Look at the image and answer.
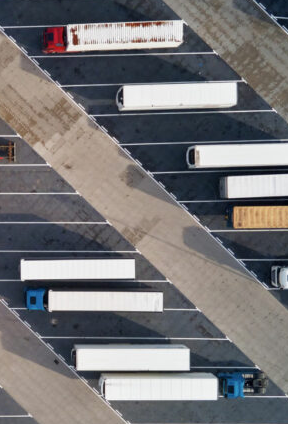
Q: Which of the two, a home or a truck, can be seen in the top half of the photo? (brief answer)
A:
truck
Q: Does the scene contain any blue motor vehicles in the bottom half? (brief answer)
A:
Yes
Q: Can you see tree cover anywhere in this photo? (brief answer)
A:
No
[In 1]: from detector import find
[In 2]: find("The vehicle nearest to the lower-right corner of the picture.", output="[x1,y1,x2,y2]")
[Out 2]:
[219,372,269,399]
